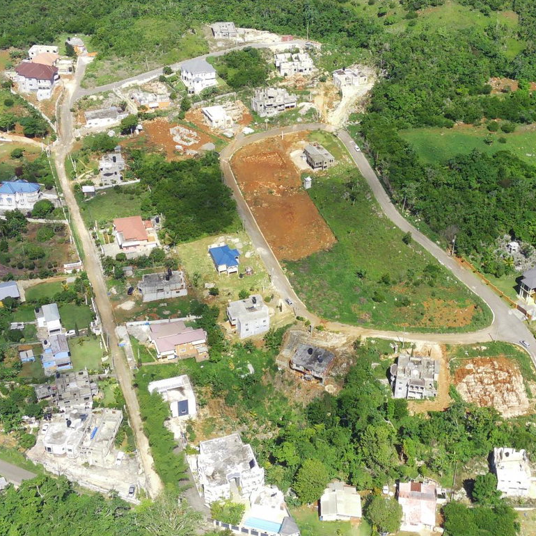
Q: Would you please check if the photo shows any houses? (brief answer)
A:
Yes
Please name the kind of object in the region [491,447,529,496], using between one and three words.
house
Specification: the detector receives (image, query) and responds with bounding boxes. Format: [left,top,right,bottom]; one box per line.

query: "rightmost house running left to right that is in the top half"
[334,68,366,84]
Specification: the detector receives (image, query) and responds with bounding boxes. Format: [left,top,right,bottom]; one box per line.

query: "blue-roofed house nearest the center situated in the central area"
[212,247,239,274]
